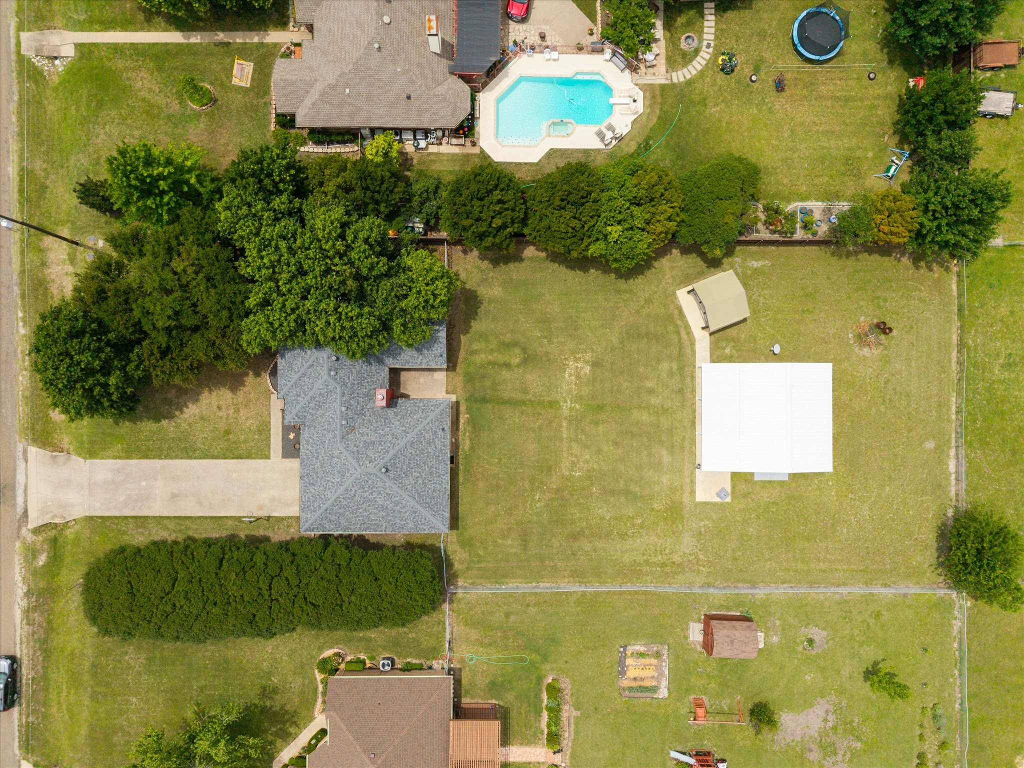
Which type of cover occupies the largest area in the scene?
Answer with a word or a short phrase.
grass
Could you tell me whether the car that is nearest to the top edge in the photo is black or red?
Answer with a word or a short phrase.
red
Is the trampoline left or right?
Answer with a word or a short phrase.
right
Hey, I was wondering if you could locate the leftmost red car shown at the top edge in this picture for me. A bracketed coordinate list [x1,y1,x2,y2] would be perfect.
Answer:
[504,0,530,22]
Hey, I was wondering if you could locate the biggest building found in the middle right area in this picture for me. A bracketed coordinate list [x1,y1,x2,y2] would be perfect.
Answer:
[694,363,832,473]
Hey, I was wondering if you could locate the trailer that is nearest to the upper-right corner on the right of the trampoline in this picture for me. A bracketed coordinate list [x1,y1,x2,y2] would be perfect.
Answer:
[980,38,1024,72]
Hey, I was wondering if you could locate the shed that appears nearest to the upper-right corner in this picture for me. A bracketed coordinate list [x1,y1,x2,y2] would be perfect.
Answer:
[683,270,750,334]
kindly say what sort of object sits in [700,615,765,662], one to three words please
shed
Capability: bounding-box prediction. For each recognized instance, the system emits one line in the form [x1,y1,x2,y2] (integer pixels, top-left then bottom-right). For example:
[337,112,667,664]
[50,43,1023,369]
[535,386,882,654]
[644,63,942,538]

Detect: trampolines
[789,0,860,70]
